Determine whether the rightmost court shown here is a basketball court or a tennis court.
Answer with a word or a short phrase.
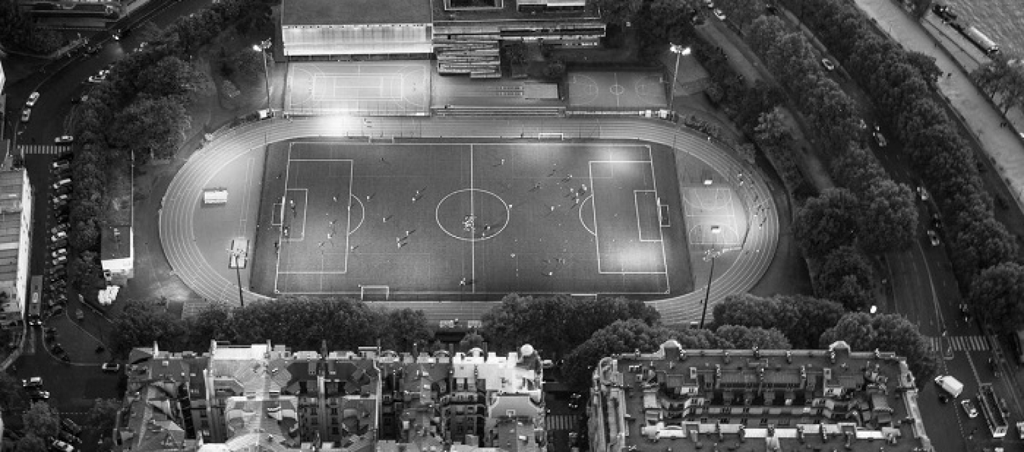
basketball court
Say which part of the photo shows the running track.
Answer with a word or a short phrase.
center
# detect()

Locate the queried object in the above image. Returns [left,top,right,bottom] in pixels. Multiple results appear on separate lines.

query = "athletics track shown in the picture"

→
[160,116,780,326]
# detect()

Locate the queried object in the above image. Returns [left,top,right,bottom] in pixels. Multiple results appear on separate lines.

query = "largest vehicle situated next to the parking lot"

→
[27,270,45,326]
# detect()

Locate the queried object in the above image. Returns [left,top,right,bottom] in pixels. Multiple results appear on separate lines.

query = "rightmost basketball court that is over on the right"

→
[684,187,743,244]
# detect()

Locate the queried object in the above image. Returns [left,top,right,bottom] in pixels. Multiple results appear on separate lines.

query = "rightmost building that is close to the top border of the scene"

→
[433,0,613,81]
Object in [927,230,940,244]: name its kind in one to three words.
vehicle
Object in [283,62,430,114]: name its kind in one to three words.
sports court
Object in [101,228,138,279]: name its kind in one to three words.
building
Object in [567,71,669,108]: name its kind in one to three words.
basketball court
